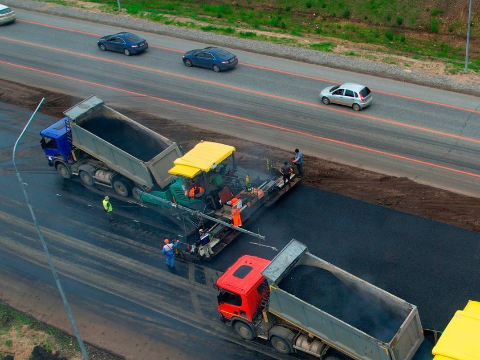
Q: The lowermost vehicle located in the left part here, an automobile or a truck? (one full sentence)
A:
Specifically, the lowermost vehicle located in the left part is a truck.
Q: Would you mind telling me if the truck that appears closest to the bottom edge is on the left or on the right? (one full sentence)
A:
The truck that appears closest to the bottom edge sits on the right side.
